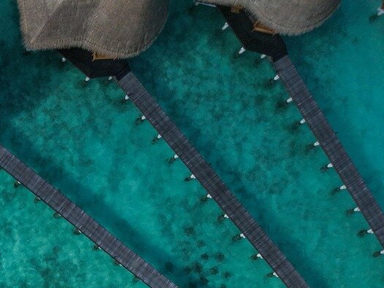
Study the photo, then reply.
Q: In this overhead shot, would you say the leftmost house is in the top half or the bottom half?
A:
top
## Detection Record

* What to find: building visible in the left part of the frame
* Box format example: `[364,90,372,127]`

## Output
[12,0,168,90]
